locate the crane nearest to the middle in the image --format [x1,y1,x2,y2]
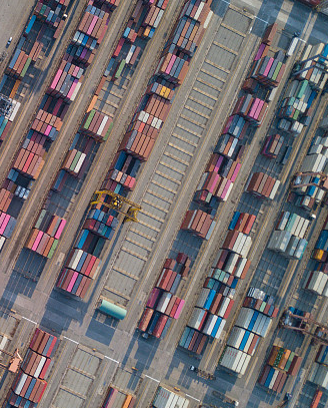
[81,185,144,225]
